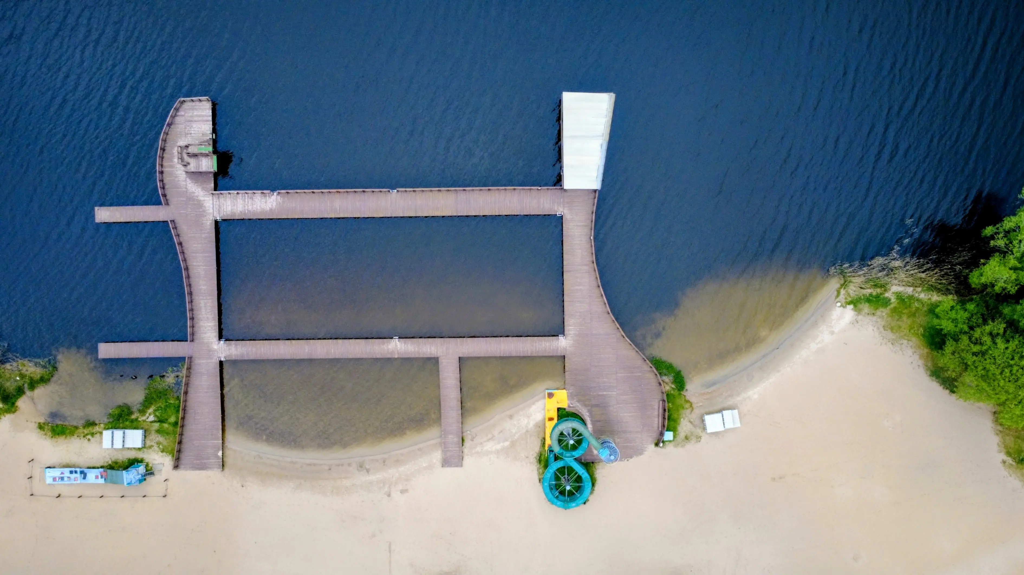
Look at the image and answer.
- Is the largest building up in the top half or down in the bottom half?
top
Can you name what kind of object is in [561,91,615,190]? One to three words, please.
building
